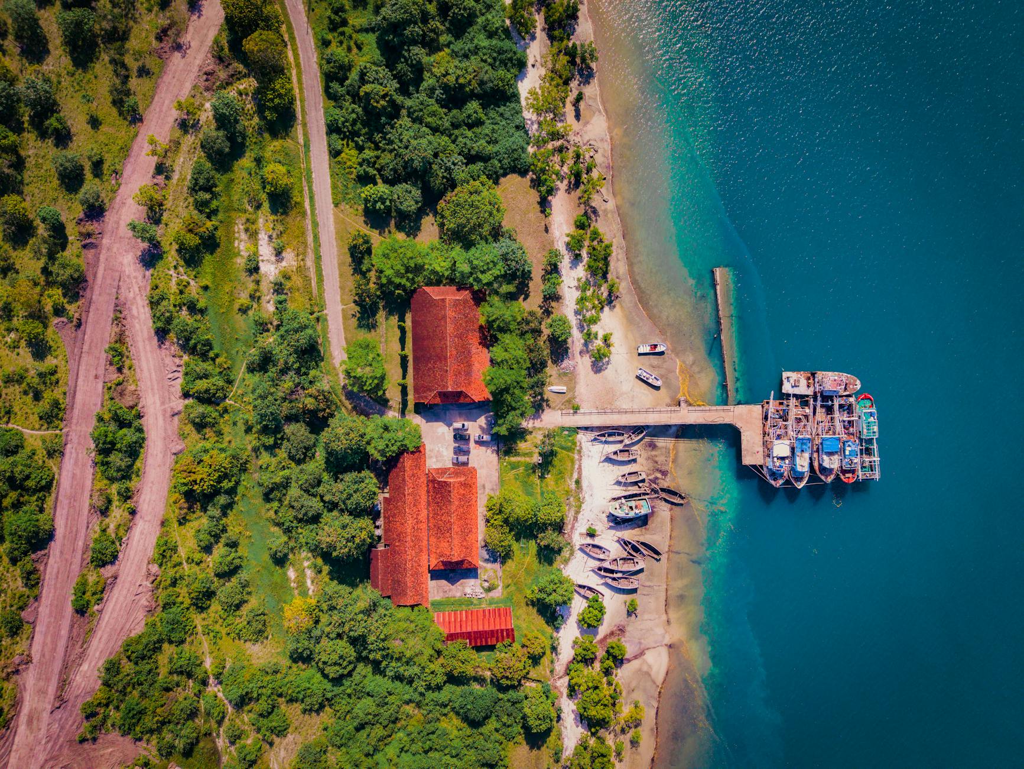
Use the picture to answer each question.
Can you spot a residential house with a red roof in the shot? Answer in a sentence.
Yes, the image includes a residential house with a red roof.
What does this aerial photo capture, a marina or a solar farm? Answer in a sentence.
It's a marina.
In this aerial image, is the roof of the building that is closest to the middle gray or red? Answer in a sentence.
The color of the roof of the building that is closest to the middle is red.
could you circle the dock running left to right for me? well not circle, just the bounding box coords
[514,405,764,465]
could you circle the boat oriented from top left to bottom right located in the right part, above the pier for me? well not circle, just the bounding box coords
[636,368,661,385]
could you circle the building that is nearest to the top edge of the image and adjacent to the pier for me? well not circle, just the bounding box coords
[411,284,492,405]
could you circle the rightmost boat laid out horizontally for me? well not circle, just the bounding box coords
[780,371,862,395]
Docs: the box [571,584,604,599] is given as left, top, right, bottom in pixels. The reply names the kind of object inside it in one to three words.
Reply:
boat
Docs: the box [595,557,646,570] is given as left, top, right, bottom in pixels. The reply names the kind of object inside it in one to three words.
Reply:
boat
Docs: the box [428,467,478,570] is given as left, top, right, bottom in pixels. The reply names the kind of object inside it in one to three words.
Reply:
house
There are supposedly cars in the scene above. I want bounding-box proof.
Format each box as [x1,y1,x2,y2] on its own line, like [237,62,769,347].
[452,422,469,430]
[452,455,469,462]
[453,444,471,452]
[473,434,491,441]
[453,433,471,441]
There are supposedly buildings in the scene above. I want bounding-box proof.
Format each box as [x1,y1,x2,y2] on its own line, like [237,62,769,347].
[411,284,492,405]
[384,438,429,613]
[436,605,516,643]
[428,467,478,570]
